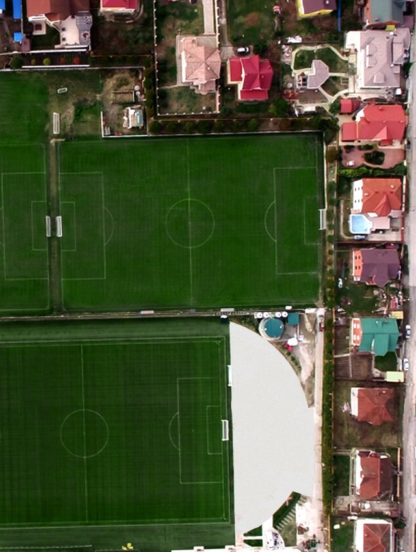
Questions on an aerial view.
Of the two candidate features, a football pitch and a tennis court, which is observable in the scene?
football pitch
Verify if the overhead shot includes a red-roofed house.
Yes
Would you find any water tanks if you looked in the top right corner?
No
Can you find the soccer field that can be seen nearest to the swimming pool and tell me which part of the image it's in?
center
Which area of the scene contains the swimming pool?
right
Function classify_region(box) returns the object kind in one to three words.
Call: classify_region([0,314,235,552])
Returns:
soccer field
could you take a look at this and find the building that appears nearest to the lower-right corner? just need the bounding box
[355,518,395,552]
